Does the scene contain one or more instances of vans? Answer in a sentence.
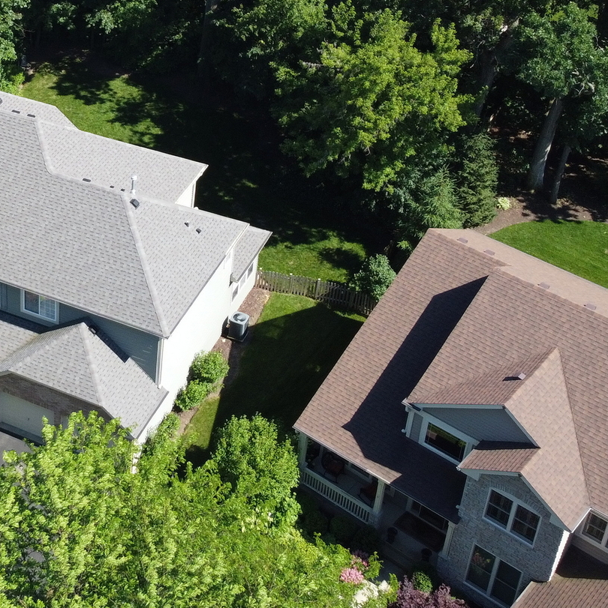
No, the picture doesn't show any van.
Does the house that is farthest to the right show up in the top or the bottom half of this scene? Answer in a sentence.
Seen from above, the house that is farthest to the right lies in the bottom half of the view.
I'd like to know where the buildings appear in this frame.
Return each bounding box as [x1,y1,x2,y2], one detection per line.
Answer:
[0,89,276,461]
[292,227,608,608]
